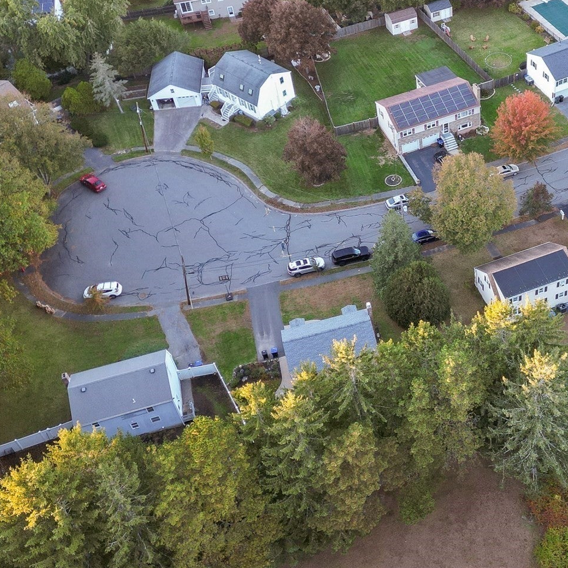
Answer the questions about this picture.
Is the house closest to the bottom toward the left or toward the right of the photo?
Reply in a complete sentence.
The house closest to the bottom sits on the left side.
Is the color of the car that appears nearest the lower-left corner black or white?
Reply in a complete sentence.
The car that appears nearest the lower-left corner looks white in the image.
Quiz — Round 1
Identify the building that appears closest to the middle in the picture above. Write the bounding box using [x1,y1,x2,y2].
[280,298,376,389]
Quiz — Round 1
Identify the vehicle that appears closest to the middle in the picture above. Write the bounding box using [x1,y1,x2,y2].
[286,257,325,279]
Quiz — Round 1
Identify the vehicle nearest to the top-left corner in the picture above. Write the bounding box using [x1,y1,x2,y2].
[78,175,108,194]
